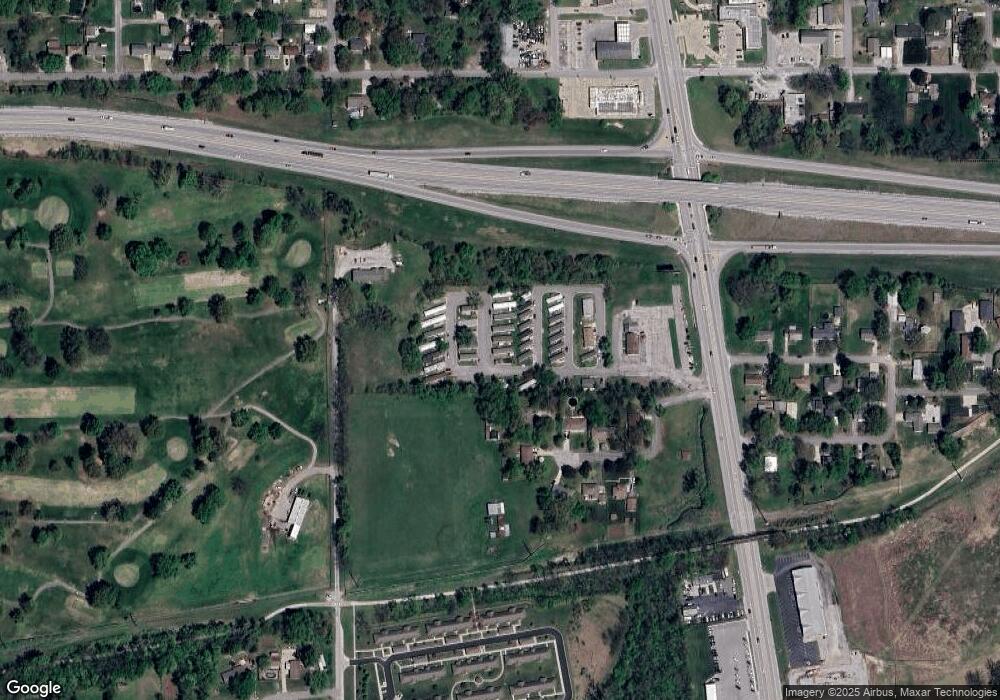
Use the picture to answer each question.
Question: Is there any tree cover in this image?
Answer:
Yes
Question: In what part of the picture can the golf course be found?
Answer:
left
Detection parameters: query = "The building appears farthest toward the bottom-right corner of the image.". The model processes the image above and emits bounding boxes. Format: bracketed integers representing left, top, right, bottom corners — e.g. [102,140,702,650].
[793,568,825,641]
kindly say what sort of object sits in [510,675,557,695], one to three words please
building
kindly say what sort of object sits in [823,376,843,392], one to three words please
house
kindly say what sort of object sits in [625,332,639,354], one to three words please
building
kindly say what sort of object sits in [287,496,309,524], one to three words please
shed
